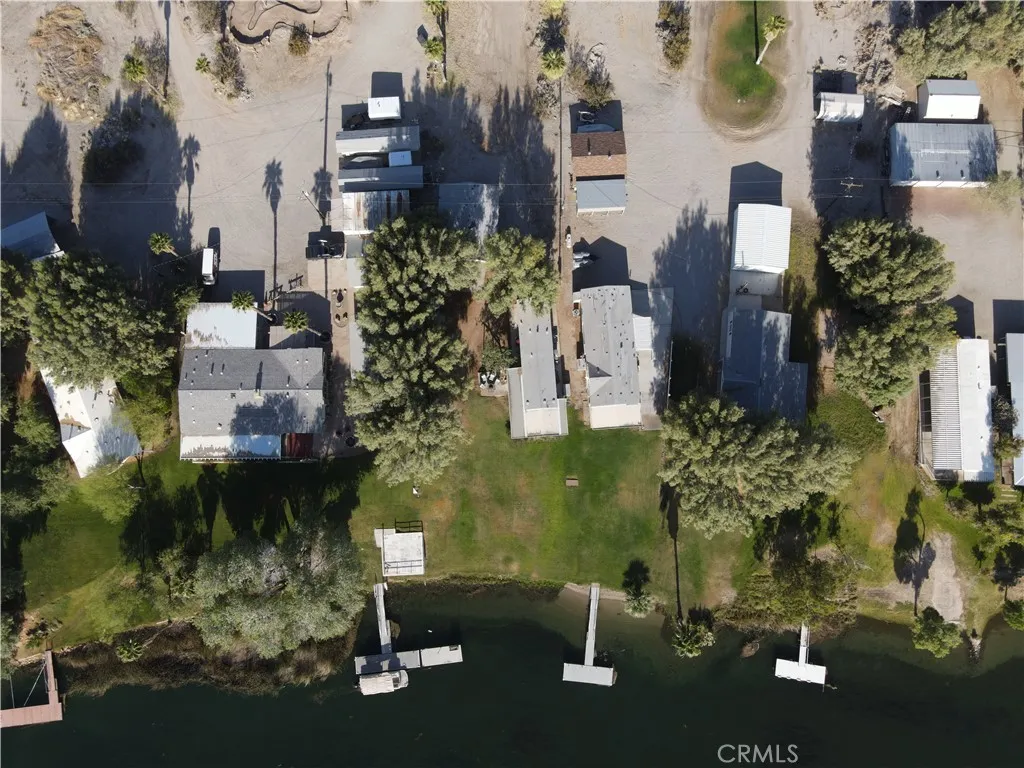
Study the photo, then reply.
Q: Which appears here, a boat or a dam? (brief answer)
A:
boat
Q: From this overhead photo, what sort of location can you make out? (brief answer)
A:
residential area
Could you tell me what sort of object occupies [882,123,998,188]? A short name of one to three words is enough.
building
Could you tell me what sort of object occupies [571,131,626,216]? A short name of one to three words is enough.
shed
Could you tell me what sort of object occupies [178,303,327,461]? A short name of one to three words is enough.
house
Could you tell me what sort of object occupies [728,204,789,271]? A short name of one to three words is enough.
building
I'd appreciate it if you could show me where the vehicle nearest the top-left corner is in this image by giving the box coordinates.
[200,248,219,285]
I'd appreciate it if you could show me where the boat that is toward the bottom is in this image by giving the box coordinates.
[358,671,411,700]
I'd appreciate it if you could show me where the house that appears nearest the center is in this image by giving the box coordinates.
[507,301,568,438]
